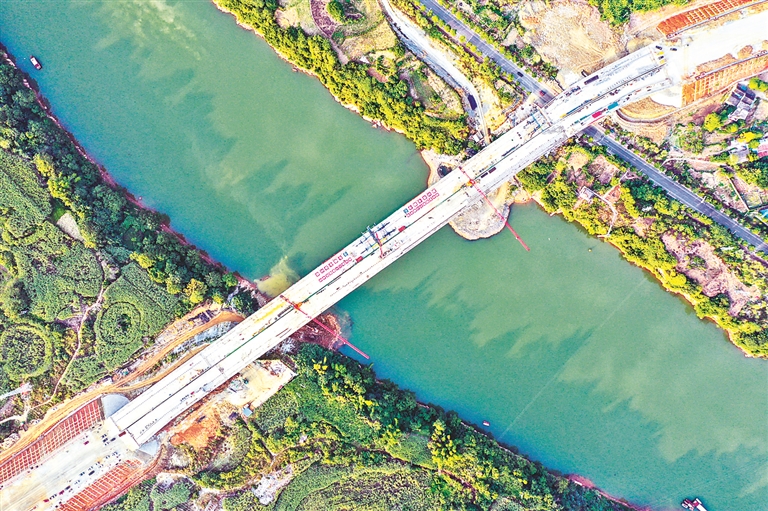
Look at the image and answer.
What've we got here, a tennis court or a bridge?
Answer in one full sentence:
The image shows a bridge.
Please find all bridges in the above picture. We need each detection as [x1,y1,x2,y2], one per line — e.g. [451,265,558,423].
[110,43,674,447]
